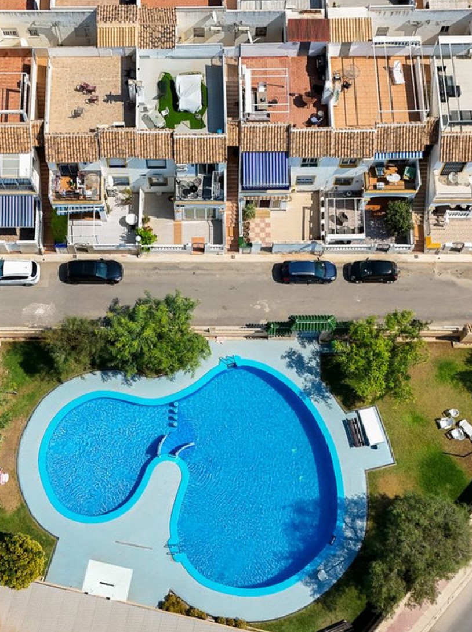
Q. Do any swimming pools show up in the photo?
Yes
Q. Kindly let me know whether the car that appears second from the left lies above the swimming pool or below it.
above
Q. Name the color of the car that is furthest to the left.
white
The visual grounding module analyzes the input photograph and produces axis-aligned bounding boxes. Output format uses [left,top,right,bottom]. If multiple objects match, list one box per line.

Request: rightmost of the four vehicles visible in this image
[347,256,401,286]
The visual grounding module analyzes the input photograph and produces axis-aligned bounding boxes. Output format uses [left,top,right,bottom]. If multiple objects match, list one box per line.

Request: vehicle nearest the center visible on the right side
[280,257,336,286]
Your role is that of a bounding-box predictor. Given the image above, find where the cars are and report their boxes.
[0,257,40,287]
[280,257,336,286]
[67,256,123,286]
[347,256,401,286]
